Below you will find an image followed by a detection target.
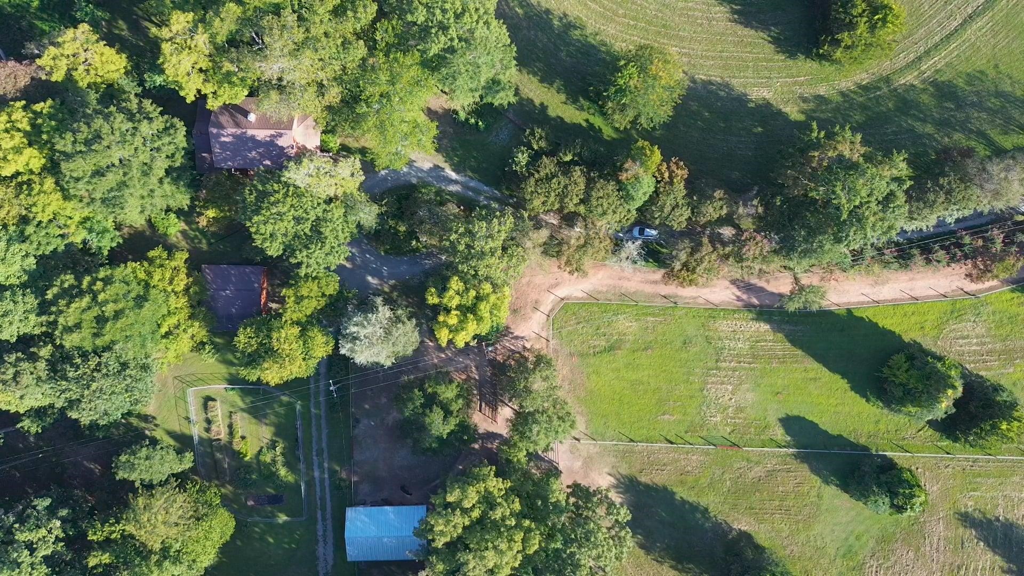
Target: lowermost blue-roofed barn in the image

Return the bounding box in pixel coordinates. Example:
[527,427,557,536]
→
[343,501,428,562]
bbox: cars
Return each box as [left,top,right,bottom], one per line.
[631,226,659,239]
